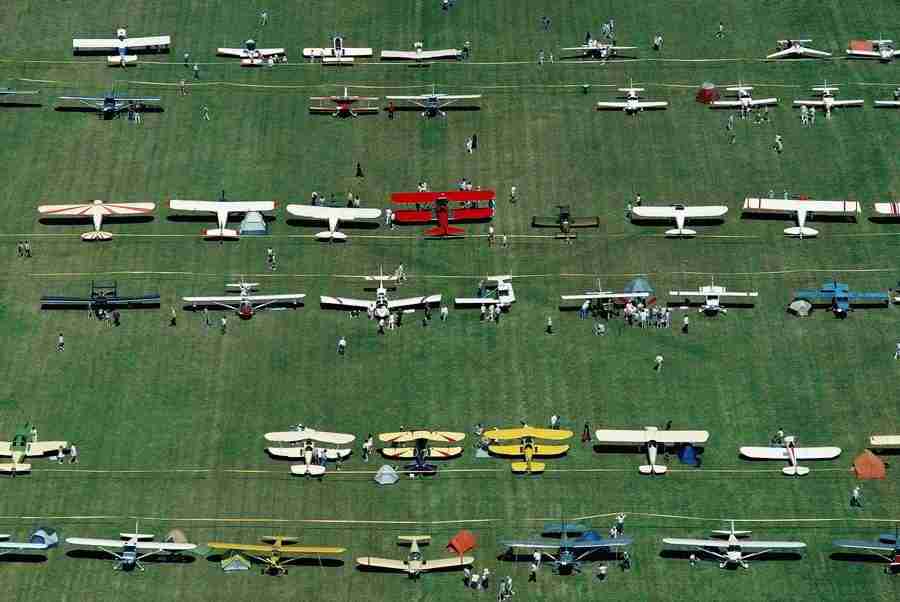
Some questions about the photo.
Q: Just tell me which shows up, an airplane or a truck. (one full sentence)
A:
This aerial view contains an airplane.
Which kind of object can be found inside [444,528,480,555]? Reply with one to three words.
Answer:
tent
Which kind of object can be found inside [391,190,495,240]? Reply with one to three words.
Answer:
airplane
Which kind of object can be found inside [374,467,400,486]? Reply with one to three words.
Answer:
tent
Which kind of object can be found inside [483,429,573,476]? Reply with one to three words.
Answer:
airplane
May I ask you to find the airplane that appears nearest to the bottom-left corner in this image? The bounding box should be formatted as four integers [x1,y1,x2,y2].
[0,535,47,572]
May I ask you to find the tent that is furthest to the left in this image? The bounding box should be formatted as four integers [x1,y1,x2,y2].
[26,529,60,548]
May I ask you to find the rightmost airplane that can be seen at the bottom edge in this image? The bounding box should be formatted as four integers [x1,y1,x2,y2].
[832,526,900,574]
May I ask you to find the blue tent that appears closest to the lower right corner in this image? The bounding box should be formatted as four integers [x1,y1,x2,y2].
[679,445,699,464]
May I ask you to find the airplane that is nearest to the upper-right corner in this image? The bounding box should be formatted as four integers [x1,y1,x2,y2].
[846,32,900,62]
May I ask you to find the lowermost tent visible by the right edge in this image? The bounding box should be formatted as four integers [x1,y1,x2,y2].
[854,454,884,478]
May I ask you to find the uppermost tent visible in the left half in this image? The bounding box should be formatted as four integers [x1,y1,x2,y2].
[240,212,266,235]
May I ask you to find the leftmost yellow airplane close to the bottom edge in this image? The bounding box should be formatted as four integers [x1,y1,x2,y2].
[207,526,345,575]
